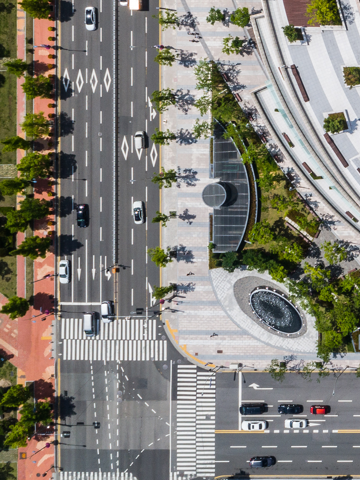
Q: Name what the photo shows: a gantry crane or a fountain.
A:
fountain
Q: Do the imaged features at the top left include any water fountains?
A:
No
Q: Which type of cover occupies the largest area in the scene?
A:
paved ground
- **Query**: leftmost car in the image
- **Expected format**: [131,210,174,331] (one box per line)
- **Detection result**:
[59,260,72,284]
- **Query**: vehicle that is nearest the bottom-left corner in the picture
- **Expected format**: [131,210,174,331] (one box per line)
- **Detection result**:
[84,311,98,336]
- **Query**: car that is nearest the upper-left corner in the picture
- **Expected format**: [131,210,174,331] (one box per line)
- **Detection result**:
[84,6,98,31]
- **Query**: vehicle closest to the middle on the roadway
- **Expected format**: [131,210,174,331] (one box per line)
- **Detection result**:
[132,200,145,225]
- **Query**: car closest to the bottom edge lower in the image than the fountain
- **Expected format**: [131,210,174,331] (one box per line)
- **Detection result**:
[251,455,275,469]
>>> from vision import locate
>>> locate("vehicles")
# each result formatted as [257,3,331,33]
[120,0,129,7]
[77,203,90,227]
[84,311,98,336]
[240,402,268,417]
[285,418,307,430]
[243,419,267,431]
[84,6,98,31]
[59,260,72,284]
[129,0,144,11]
[251,455,275,469]
[135,130,146,150]
[102,299,115,323]
[132,200,145,225]
[279,403,304,415]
